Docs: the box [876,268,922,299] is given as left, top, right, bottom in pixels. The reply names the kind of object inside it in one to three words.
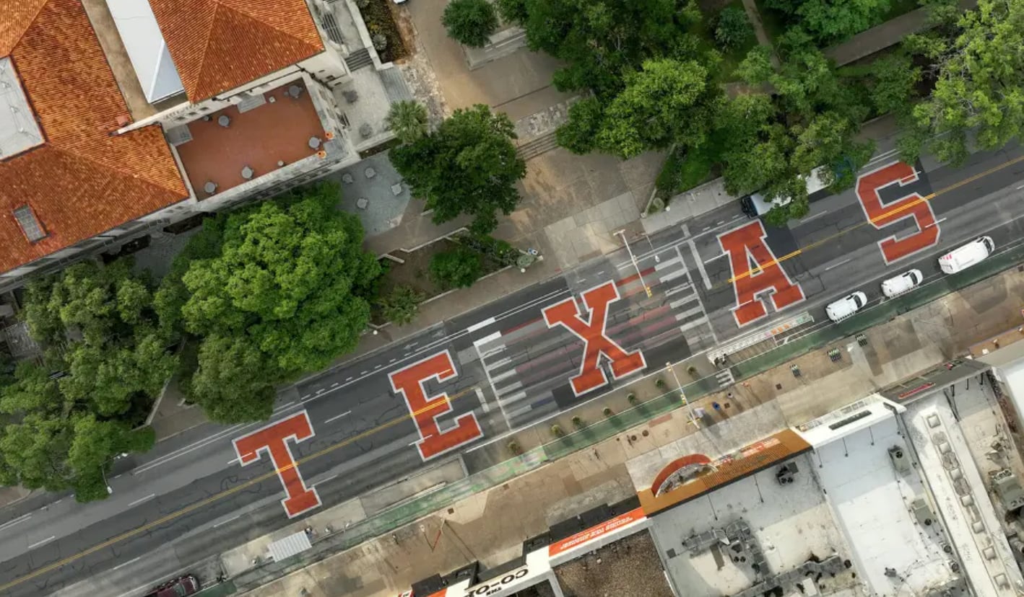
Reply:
van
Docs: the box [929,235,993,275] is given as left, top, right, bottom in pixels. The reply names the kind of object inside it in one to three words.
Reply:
van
